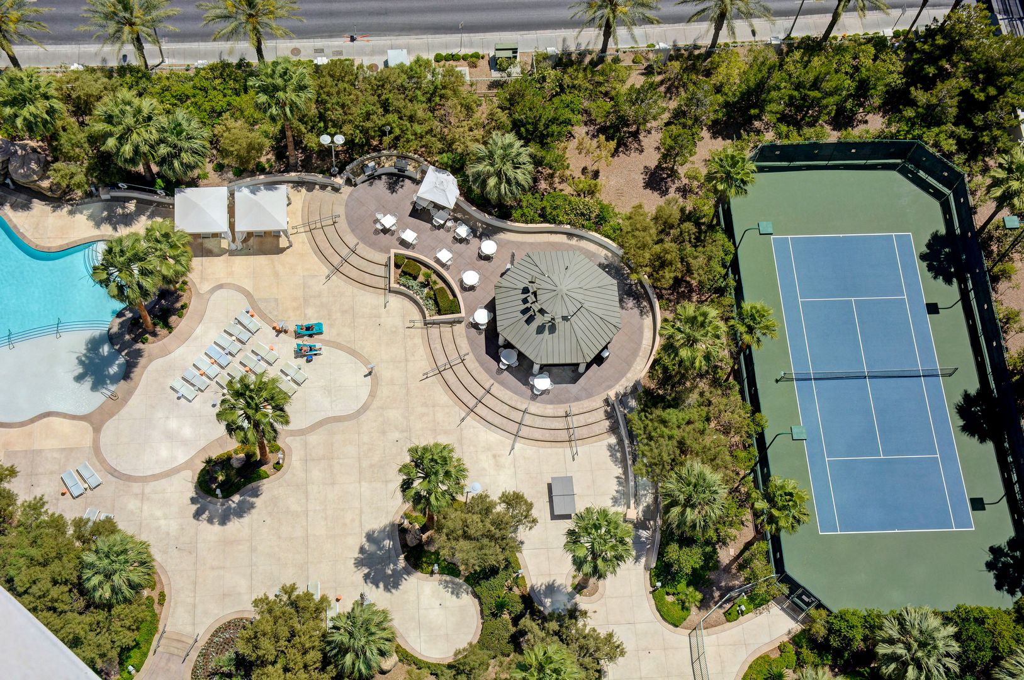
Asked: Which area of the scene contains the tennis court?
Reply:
right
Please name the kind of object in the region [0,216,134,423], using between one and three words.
swimming pool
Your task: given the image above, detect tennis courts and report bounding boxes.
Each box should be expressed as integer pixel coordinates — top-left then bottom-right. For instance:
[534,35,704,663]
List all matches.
[711,159,1024,632]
